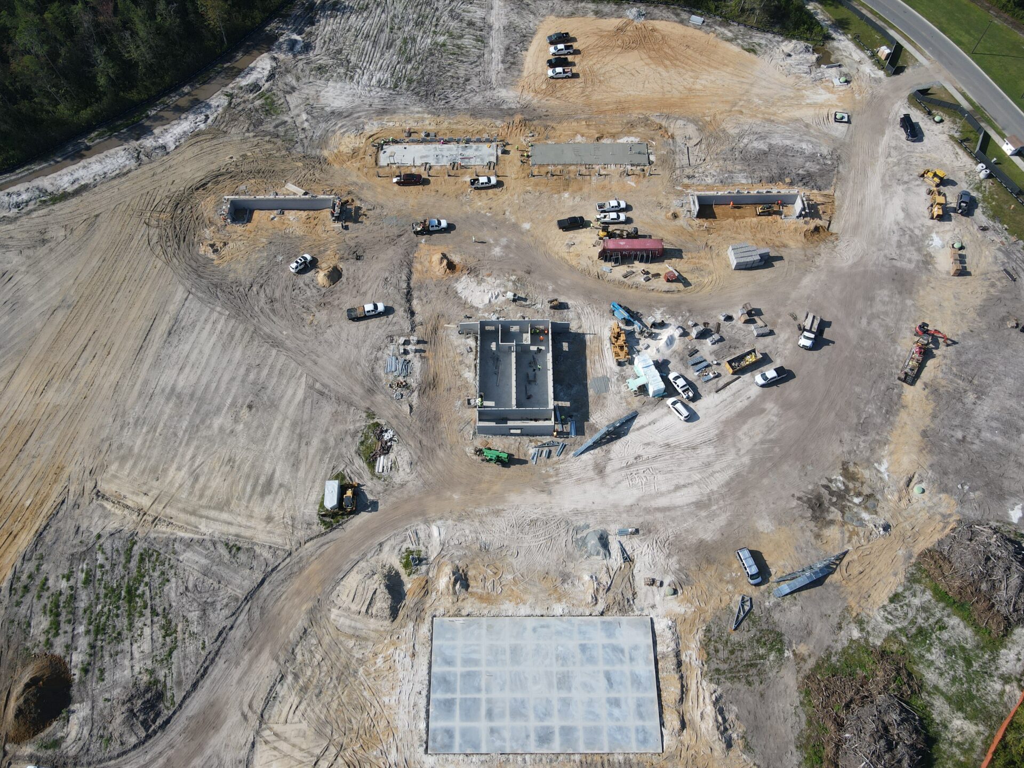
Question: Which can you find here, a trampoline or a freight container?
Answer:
freight container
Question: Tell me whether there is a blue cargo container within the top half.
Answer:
No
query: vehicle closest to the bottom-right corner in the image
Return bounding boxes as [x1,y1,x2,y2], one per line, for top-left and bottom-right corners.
[733,549,760,589]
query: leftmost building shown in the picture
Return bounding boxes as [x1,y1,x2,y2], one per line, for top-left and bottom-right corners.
[223,199,331,223]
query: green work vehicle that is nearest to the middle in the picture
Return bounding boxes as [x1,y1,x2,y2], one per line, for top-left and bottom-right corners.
[470,445,511,465]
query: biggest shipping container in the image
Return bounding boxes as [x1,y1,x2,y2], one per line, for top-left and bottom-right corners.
[597,231,667,256]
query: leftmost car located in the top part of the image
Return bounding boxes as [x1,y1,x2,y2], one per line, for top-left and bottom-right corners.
[288,256,316,273]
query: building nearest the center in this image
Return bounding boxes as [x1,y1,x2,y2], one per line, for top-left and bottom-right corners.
[461,320,568,434]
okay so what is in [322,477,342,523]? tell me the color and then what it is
white trailer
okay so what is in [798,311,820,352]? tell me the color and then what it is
white truck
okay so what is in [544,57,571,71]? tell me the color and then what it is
black vehicle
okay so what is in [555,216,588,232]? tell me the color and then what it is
black vehicle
